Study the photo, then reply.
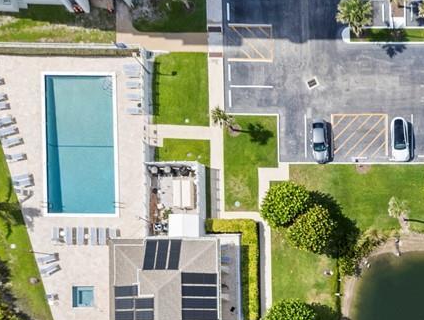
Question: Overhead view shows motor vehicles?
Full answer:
Yes, a motor vehicle can be made out from above.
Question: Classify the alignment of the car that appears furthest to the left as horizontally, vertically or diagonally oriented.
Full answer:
Seen from above, the car that appears furthest to the left lies vertically.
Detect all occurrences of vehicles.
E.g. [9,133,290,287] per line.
[310,120,330,164]
[390,118,411,162]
